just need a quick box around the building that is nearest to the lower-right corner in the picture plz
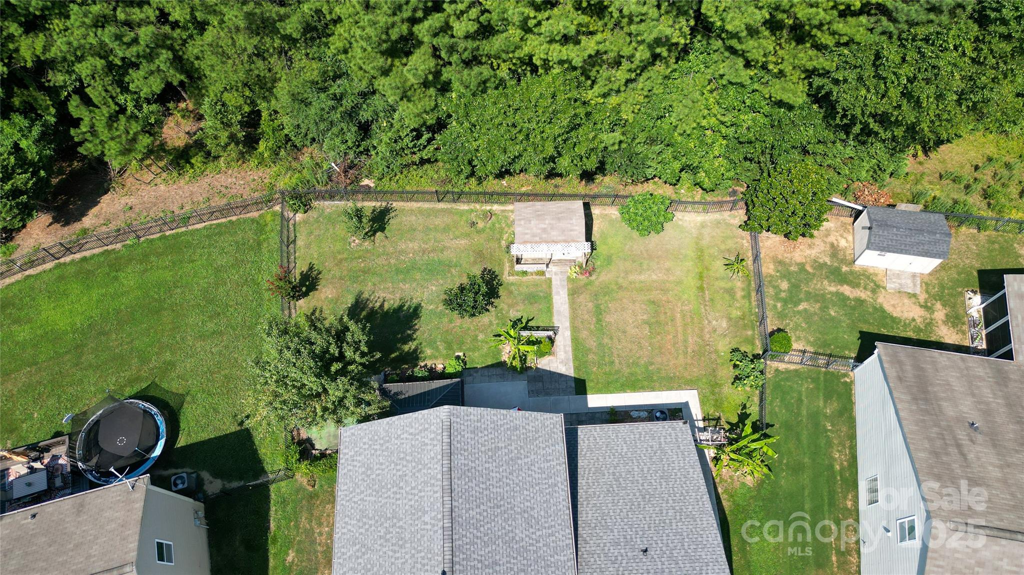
[852,273,1024,575]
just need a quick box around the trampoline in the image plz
[59,389,174,486]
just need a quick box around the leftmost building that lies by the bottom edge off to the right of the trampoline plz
[328,404,727,575]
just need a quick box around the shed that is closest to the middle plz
[511,201,592,276]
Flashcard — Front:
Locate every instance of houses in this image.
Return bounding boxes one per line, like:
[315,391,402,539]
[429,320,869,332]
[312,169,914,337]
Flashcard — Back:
[328,404,727,575]
[0,474,208,575]
[852,273,1024,575]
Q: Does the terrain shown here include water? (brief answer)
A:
No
